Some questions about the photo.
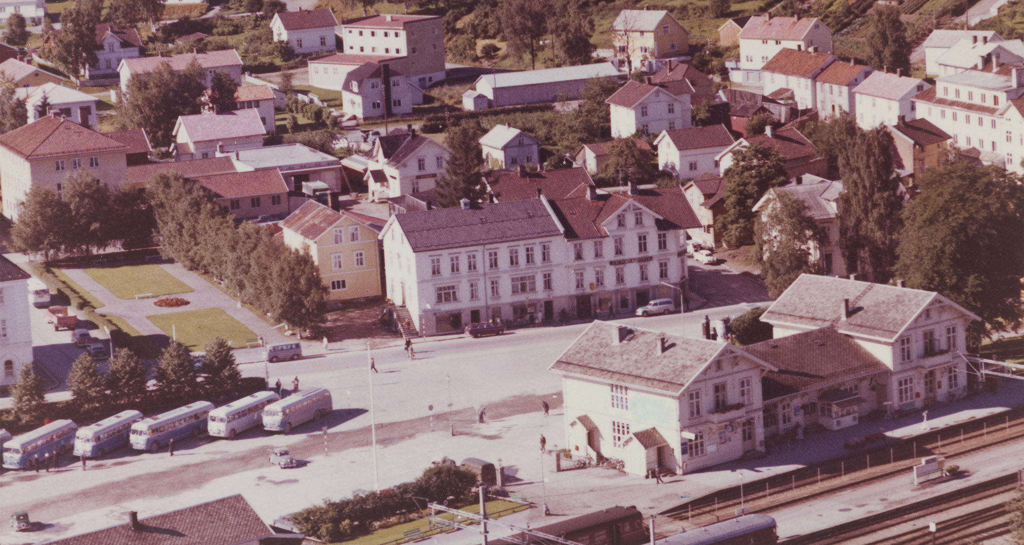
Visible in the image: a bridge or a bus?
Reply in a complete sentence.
Visible in the photo is a bus.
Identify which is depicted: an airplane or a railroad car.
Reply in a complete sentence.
Of the two, only a railroad car appears.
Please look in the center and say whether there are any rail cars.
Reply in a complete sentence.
No, looking in the center, there is no rail car.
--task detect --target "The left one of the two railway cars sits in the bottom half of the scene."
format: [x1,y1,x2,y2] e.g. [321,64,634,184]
[463,500,650,545]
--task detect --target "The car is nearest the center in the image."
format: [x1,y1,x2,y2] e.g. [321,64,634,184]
[468,324,511,339]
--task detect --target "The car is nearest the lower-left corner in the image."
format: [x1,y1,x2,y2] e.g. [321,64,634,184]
[5,510,36,531]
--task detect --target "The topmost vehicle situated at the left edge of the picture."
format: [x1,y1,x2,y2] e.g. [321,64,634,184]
[28,282,50,309]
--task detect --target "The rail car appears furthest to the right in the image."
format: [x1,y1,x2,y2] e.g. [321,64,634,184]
[657,514,786,545]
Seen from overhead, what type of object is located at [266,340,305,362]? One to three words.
vehicle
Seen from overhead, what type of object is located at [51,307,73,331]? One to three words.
truck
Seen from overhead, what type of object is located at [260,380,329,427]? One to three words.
bus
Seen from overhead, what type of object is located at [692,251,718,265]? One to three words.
car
